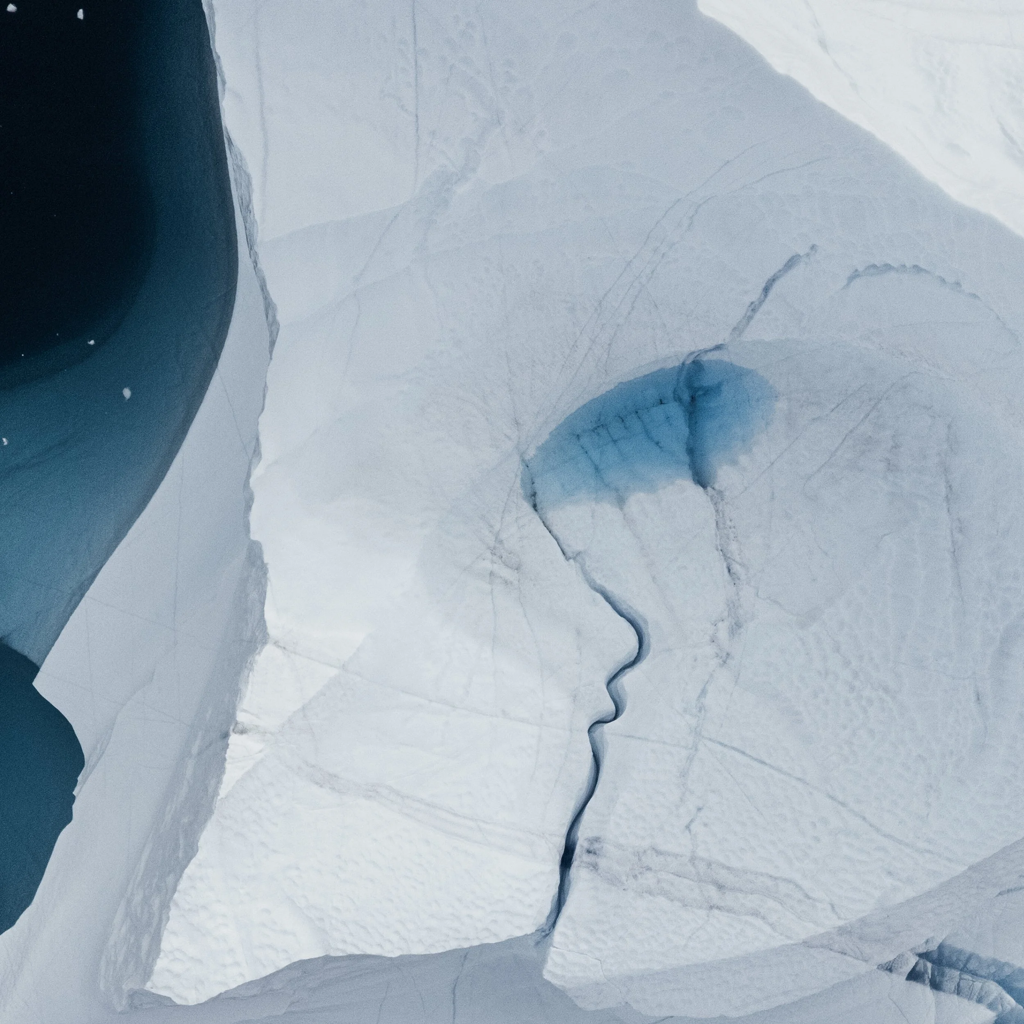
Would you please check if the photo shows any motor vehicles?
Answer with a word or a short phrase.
No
